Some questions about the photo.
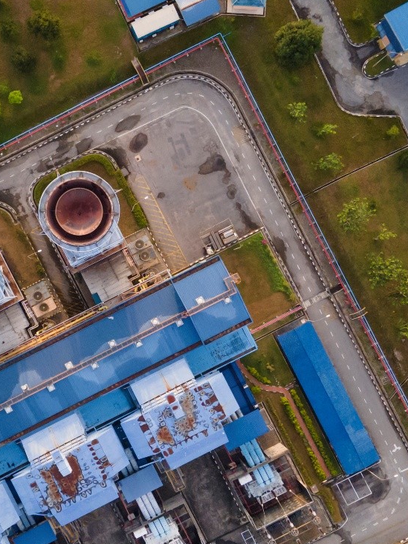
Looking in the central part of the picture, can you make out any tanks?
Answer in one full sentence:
No, there's no tank to be seen in the central part of the picture.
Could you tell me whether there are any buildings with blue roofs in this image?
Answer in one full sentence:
Yes, a building with a blue roof appears in the view.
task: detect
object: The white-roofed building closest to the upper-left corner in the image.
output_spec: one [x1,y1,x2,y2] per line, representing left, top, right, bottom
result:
[131,1,180,44]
